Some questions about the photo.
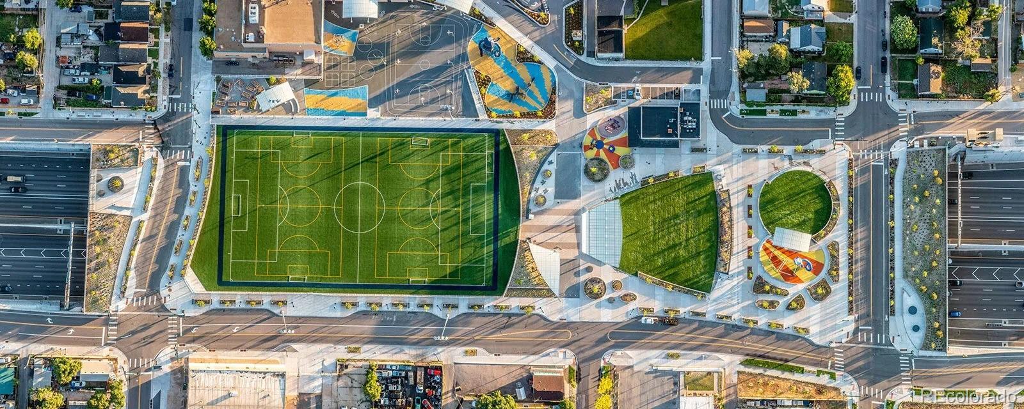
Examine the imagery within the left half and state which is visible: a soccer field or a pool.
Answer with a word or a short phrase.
soccer field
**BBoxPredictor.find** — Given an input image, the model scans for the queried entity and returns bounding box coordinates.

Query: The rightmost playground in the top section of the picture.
[582,114,632,176]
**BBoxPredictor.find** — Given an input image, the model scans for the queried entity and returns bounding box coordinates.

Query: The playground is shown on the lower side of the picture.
[759,235,827,285]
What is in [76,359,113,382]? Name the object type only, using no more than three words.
house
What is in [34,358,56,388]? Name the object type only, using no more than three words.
house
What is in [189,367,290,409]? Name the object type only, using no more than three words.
building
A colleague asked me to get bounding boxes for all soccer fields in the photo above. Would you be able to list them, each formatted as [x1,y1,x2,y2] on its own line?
[190,124,520,295]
